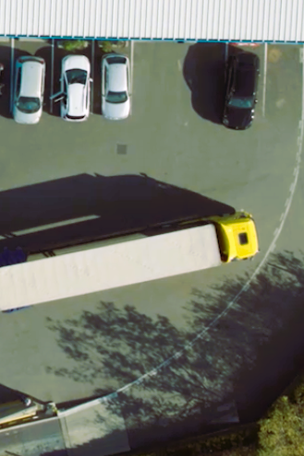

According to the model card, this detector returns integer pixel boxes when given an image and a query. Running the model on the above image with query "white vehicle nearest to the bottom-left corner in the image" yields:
[0,213,260,317]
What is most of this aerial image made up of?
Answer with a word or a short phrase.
paved ground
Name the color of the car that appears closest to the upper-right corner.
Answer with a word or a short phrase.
black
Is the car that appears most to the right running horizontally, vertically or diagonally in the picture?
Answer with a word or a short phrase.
vertically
